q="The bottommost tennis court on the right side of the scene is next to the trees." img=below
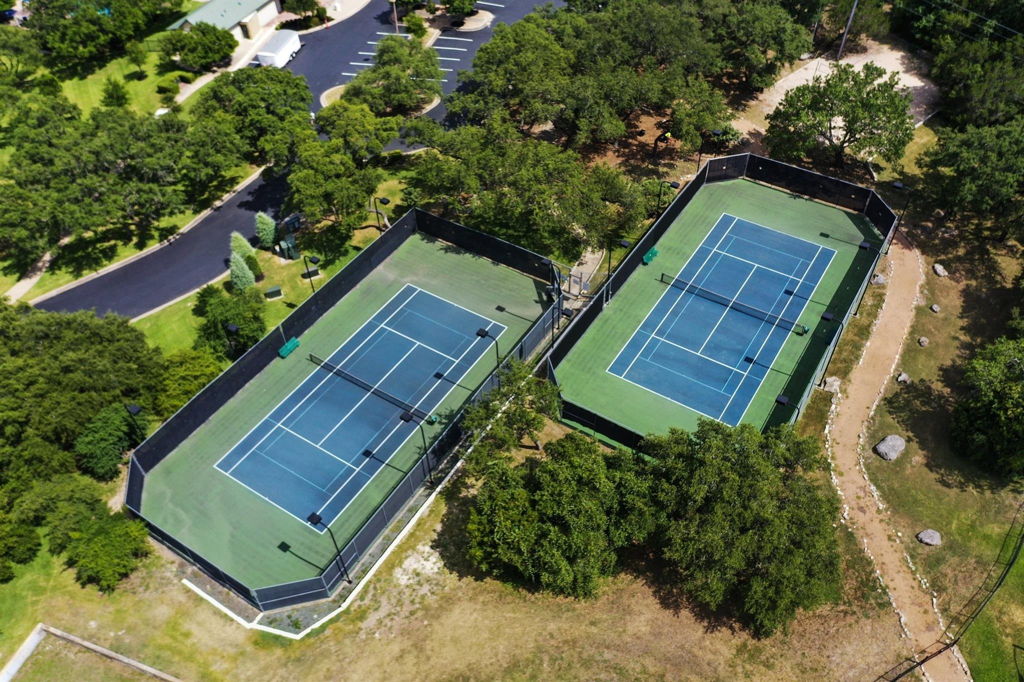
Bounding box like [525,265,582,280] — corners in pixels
[545,177,890,491]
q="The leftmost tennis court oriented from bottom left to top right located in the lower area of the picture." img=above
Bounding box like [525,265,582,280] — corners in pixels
[132,232,589,622]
